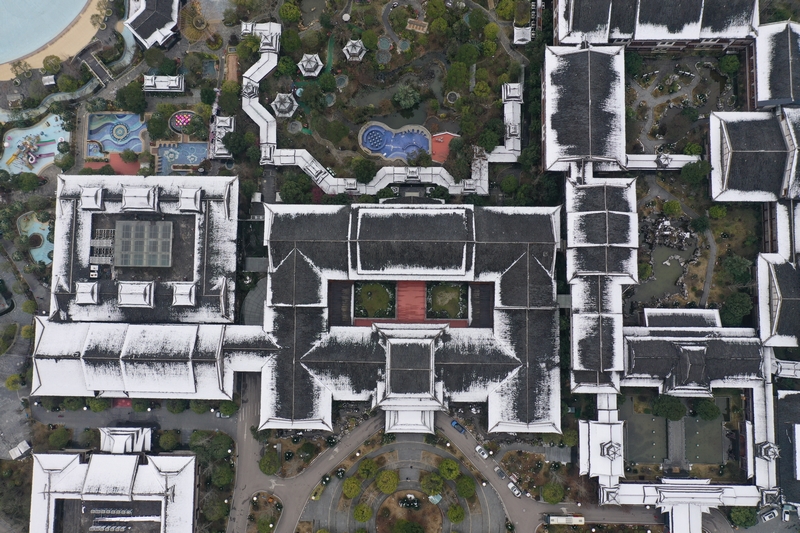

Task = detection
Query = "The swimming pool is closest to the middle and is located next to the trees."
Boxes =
[356,119,434,164]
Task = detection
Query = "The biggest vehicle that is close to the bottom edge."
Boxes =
[544,510,584,524]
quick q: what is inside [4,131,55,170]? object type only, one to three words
playground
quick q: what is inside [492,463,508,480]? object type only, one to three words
car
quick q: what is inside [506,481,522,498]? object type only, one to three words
car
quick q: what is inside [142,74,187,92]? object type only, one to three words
building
